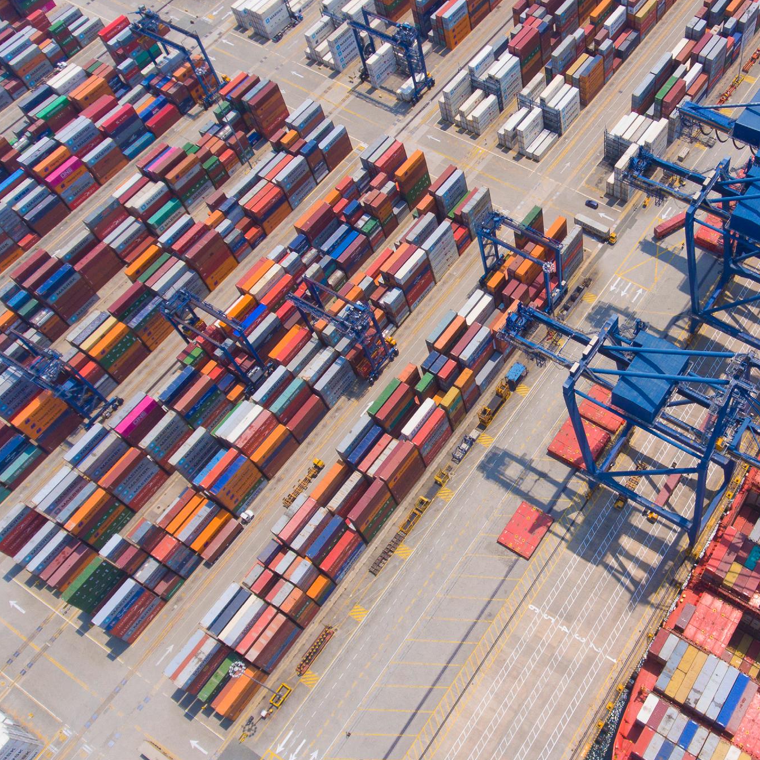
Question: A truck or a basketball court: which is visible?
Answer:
truck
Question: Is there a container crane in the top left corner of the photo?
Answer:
Yes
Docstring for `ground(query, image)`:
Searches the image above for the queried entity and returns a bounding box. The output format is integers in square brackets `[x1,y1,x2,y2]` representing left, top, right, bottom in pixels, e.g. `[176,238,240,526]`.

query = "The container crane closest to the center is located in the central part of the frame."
[285,272,396,380]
